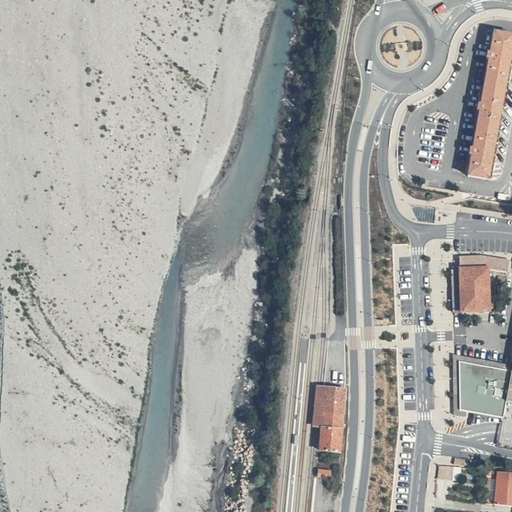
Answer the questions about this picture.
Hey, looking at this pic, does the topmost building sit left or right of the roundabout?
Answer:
on the right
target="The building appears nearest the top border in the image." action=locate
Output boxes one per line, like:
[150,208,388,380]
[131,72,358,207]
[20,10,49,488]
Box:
[468,28,512,180]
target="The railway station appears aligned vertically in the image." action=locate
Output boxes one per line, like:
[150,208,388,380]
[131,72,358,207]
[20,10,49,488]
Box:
[286,339,348,512]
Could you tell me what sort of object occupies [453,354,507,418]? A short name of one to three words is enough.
building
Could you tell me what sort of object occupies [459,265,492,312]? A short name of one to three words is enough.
house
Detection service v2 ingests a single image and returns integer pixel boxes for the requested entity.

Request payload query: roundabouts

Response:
[355,0,462,94]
